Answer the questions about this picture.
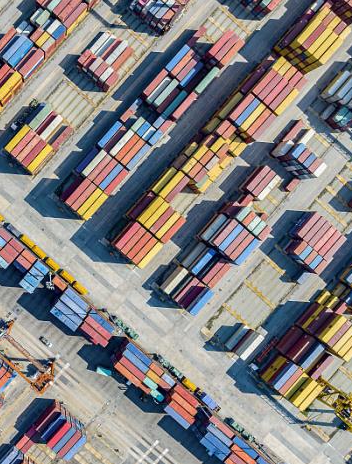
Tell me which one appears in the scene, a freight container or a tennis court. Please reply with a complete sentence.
There is a freight container in the scene.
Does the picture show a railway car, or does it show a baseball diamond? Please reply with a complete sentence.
There is a railway car in the scene.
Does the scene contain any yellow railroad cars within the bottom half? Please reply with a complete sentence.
Yes, there is a yellow railroad car within the bottom half.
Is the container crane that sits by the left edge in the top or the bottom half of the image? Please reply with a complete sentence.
The container crane that sits by the left edge is in the bottom half of the image.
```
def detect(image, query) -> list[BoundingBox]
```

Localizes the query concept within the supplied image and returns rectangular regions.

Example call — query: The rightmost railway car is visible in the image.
[242,431,258,447]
